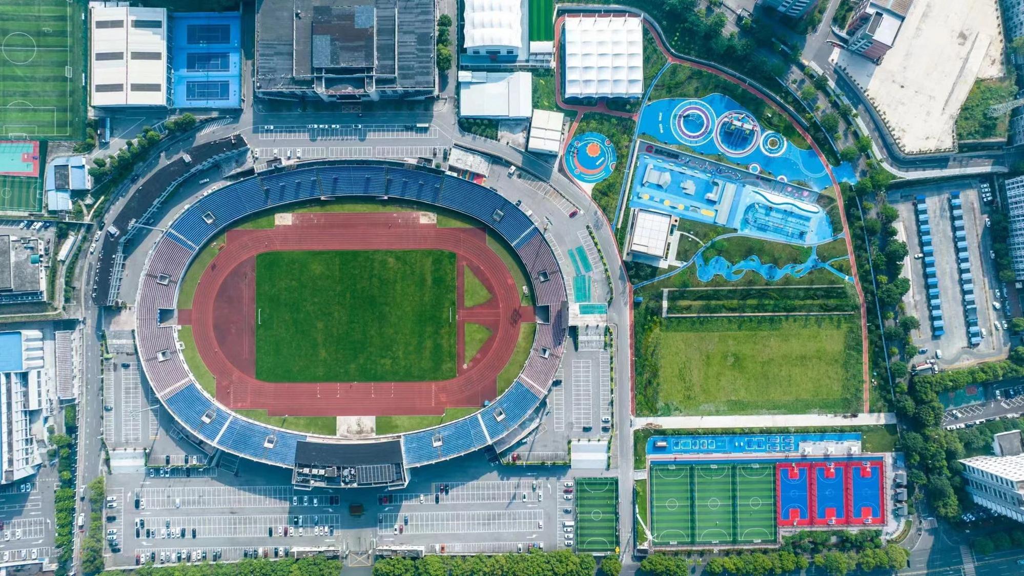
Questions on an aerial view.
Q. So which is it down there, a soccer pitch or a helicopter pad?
soccer pitch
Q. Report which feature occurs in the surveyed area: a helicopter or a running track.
running track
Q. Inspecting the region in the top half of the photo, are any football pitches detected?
Yes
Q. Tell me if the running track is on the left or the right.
left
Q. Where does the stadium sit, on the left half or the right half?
left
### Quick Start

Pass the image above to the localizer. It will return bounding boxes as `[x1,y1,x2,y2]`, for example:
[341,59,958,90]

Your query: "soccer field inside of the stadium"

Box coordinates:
[256,250,457,382]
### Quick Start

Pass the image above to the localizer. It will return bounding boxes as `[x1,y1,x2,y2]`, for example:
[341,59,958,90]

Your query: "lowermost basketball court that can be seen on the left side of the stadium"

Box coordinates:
[0,141,39,177]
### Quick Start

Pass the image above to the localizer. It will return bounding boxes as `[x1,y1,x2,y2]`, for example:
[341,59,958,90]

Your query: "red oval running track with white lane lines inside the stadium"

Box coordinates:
[177,212,535,416]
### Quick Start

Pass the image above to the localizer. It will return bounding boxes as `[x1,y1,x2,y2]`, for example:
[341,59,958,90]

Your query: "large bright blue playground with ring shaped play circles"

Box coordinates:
[637,92,850,192]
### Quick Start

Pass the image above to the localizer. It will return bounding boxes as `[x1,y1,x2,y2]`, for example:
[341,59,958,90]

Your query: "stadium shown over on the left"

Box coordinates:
[135,156,568,490]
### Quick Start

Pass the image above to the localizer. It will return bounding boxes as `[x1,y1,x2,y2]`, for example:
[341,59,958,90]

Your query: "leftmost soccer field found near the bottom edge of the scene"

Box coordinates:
[576,477,618,552]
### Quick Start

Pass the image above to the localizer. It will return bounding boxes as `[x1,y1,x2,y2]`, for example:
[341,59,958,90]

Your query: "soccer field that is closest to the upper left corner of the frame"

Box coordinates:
[0,0,86,141]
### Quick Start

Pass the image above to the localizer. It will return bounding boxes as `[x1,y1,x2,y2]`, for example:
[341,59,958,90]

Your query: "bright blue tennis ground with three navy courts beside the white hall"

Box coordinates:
[173,12,241,108]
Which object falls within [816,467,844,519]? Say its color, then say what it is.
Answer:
blue basketball court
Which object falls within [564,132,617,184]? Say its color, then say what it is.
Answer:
blue playground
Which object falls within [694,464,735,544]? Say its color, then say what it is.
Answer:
green soccer field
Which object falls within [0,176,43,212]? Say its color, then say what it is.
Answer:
green soccer field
